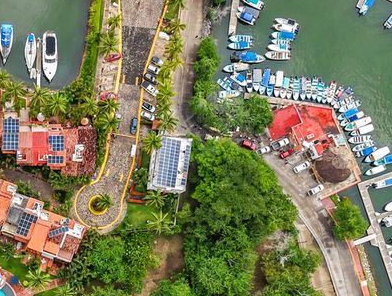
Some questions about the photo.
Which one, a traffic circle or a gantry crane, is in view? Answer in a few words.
traffic circle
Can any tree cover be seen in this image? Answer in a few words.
Yes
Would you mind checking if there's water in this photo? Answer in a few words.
Yes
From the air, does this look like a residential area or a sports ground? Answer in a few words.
residential area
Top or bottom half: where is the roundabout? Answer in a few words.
bottom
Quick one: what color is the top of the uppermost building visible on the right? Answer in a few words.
red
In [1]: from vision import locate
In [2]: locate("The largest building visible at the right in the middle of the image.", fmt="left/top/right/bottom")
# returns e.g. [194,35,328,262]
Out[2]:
[262,103,344,162]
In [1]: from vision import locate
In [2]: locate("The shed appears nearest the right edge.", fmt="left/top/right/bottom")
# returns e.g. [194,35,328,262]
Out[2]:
[312,153,351,181]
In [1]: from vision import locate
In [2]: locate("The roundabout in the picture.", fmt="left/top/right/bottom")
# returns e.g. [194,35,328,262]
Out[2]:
[71,184,123,237]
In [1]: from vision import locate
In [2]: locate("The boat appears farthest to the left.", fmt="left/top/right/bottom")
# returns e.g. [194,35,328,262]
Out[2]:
[0,23,12,62]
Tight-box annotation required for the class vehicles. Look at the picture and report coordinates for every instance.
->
[241,139,256,151]
[147,63,160,75]
[142,80,158,96]
[103,93,116,99]
[307,184,324,196]
[151,55,164,67]
[279,148,294,159]
[130,144,138,157]
[256,145,271,155]
[271,138,289,150]
[141,110,155,121]
[143,71,157,84]
[107,52,121,61]
[142,101,155,113]
[130,118,138,133]
[294,161,309,173]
